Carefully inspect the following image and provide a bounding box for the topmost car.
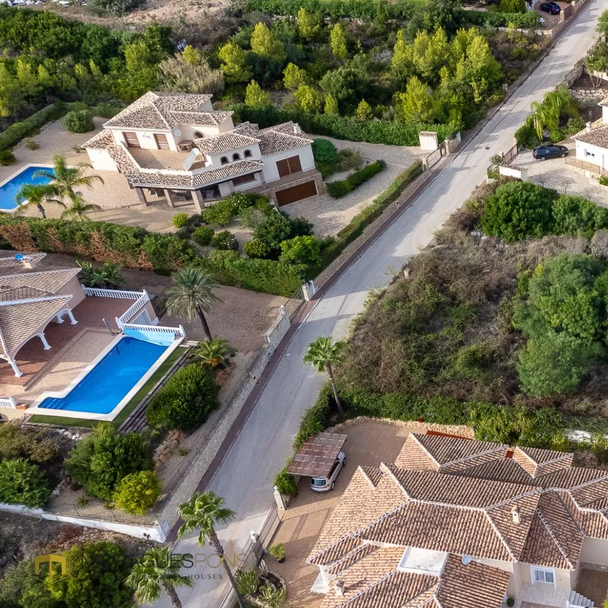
[538,1,561,14]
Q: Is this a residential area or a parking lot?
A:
residential area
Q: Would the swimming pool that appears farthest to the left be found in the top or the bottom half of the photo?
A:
top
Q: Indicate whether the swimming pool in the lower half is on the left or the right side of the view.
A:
left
